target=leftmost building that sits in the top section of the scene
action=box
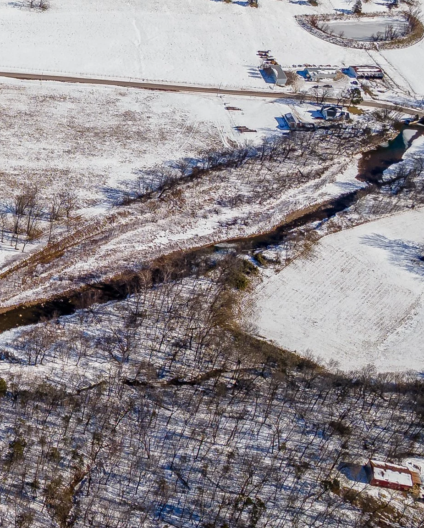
[268,63,291,85]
